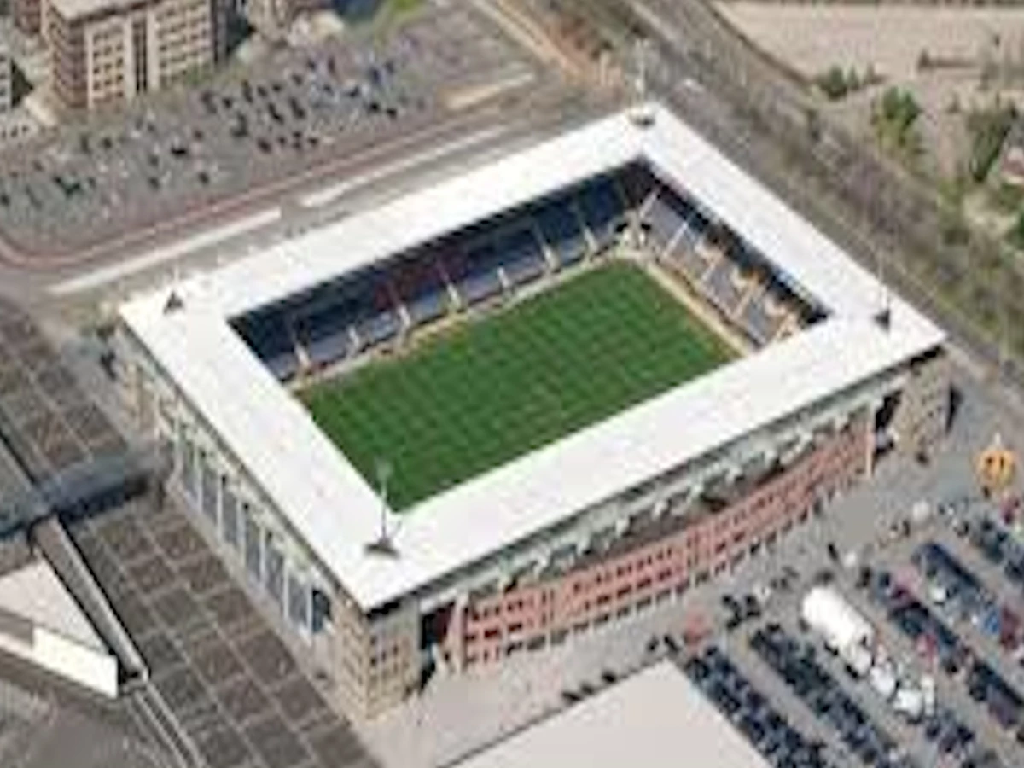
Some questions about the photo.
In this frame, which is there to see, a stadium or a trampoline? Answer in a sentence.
This aerial view contains a stadium.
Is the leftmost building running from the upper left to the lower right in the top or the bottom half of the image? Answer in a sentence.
Seen from above, the leftmost building running from the upper left to the lower right lies in the bottom half of the view.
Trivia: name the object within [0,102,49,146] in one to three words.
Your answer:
building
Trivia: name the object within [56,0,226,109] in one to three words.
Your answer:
building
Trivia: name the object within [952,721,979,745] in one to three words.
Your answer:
vehicle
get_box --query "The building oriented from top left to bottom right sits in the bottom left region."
[0,547,117,692]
